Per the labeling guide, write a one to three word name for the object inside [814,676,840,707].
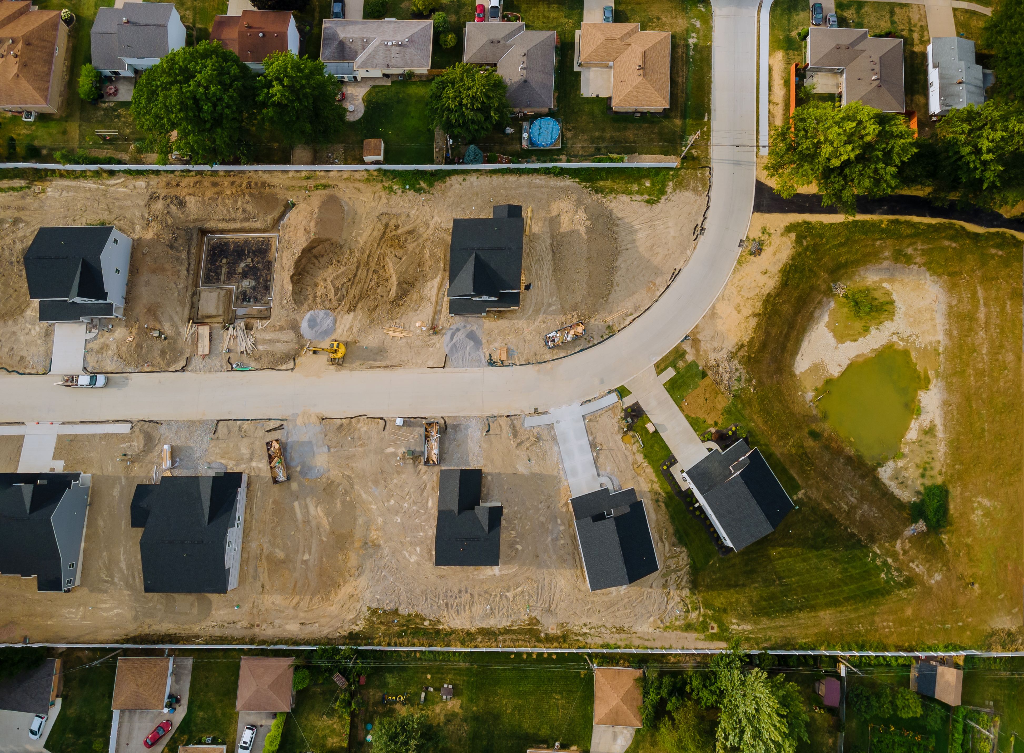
shed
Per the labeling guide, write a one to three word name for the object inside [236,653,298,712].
building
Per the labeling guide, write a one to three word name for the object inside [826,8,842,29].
car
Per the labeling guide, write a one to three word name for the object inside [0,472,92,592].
house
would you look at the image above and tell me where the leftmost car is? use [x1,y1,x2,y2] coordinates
[25,713,47,744]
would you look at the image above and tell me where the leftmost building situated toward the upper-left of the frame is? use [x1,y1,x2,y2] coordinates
[0,1,71,113]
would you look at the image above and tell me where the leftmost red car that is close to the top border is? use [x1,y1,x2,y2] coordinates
[473,1,486,23]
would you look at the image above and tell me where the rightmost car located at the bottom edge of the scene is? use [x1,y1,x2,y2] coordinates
[235,724,256,753]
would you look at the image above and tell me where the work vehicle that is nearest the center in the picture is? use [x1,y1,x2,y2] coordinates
[298,341,349,368]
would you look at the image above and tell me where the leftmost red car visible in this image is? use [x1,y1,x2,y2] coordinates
[145,722,174,751]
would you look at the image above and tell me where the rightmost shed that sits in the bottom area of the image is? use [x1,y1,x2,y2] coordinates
[906,659,963,706]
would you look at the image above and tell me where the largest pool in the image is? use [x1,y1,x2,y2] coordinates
[530,114,560,146]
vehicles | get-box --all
[826,8,842,29]
[811,0,826,27]
[235,724,256,753]
[145,722,174,751]
[473,1,486,23]
[602,0,615,23]
[25,713,47,744]
[298,341,349,368]
[488,0,500,22]
[331,0,343,18]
